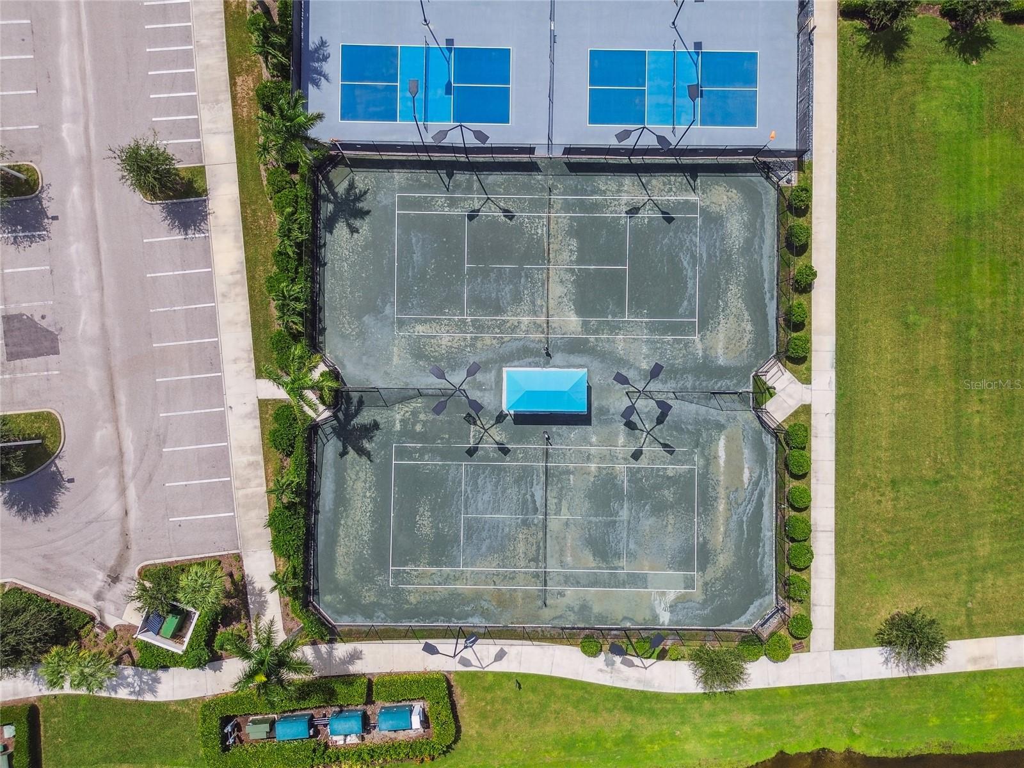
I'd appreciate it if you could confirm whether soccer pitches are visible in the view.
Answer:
No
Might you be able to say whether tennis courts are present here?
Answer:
Yes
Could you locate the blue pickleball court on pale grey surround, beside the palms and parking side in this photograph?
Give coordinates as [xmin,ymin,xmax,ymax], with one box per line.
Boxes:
[302,0,551,156]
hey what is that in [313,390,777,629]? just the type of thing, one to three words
tennis court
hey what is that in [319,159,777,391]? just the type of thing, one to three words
tennis court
